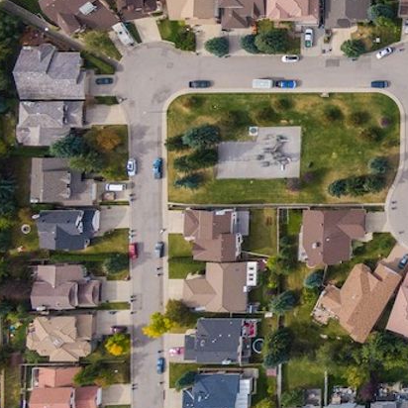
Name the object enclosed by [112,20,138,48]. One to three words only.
camper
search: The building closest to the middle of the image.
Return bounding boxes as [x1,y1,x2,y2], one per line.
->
[184,209,250,261]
